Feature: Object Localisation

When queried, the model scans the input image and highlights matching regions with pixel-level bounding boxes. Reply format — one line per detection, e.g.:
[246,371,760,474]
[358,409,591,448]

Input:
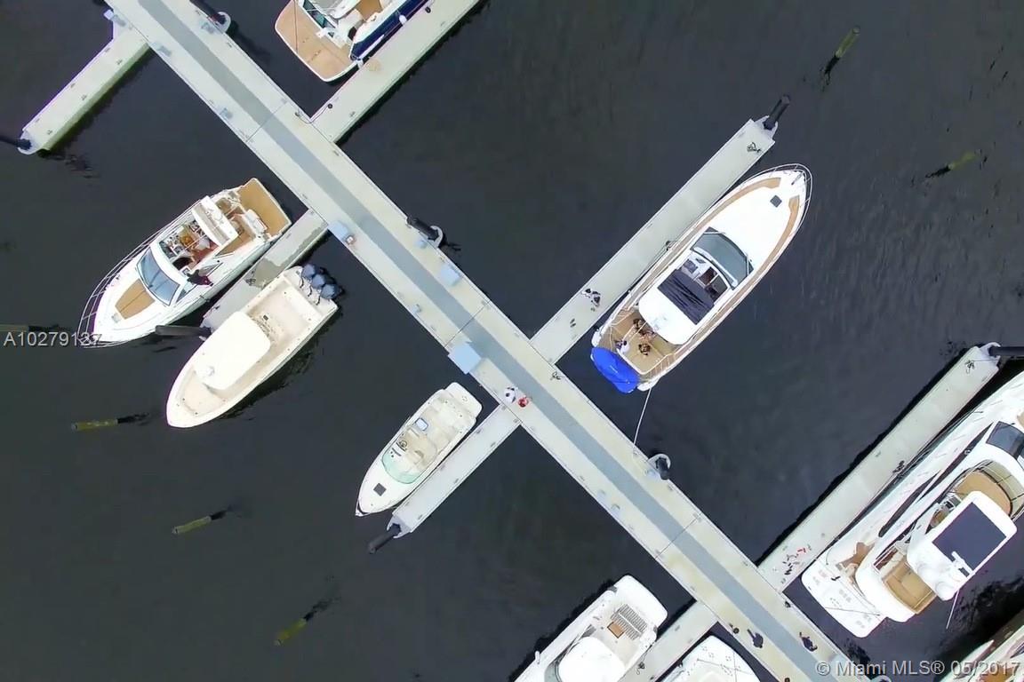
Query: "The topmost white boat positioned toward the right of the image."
[593,160,819,392]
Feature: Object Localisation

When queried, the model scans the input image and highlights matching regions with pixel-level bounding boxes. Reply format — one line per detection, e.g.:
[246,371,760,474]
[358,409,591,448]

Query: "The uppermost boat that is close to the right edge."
[802,365,1024,635]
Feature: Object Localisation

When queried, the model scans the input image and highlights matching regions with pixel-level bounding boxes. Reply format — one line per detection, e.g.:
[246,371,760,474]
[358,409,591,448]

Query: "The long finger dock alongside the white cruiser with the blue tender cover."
[531,111,782,363]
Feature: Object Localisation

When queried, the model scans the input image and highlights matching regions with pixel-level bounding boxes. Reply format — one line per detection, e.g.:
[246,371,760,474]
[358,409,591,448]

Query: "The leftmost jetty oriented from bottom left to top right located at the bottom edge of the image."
[620,600,717,682]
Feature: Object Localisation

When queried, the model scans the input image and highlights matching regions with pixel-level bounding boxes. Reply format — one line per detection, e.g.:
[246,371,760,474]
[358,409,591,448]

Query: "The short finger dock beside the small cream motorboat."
[384,403,521,541]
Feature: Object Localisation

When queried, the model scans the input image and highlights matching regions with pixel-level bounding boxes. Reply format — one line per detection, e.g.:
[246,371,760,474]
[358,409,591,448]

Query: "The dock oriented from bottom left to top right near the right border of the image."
[756,338,1006,591]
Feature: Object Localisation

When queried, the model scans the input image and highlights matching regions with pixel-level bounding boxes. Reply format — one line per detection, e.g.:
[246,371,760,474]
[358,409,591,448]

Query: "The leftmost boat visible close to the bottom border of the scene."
[513,575,667,682]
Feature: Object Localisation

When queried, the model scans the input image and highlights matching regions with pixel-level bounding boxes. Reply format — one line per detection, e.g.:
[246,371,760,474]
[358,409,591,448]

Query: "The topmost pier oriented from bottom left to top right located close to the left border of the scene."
[23,12,151,157]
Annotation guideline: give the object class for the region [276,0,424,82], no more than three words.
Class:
boat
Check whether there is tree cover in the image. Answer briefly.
No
